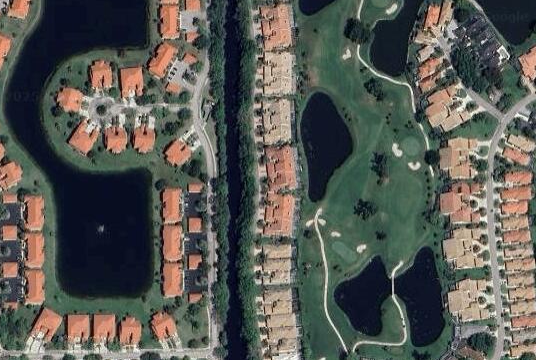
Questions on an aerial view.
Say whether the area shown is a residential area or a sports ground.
residential area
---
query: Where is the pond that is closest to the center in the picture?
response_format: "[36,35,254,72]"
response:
[302,94,351,201]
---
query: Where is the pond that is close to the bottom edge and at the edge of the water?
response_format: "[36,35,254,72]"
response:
[334,247,443,346]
